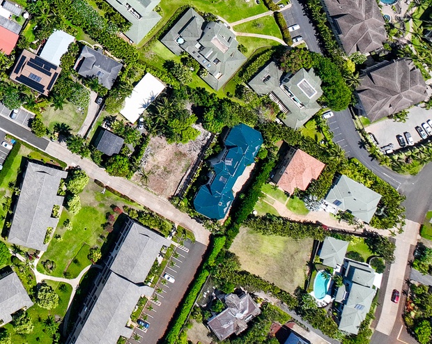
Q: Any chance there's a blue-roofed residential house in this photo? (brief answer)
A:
Yes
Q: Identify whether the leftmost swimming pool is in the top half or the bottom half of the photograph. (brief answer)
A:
bottom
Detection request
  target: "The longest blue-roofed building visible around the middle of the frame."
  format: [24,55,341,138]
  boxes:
[190,123,264,224]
